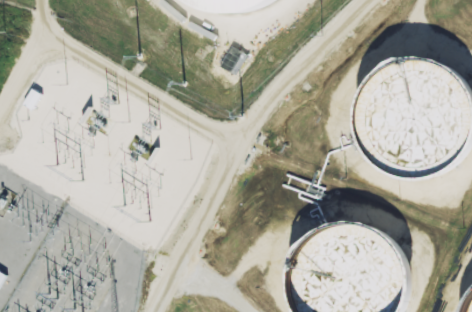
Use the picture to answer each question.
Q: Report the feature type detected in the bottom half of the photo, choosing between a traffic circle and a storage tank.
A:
storage tank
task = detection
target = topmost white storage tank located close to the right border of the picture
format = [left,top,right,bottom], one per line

[350,54,472,180]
